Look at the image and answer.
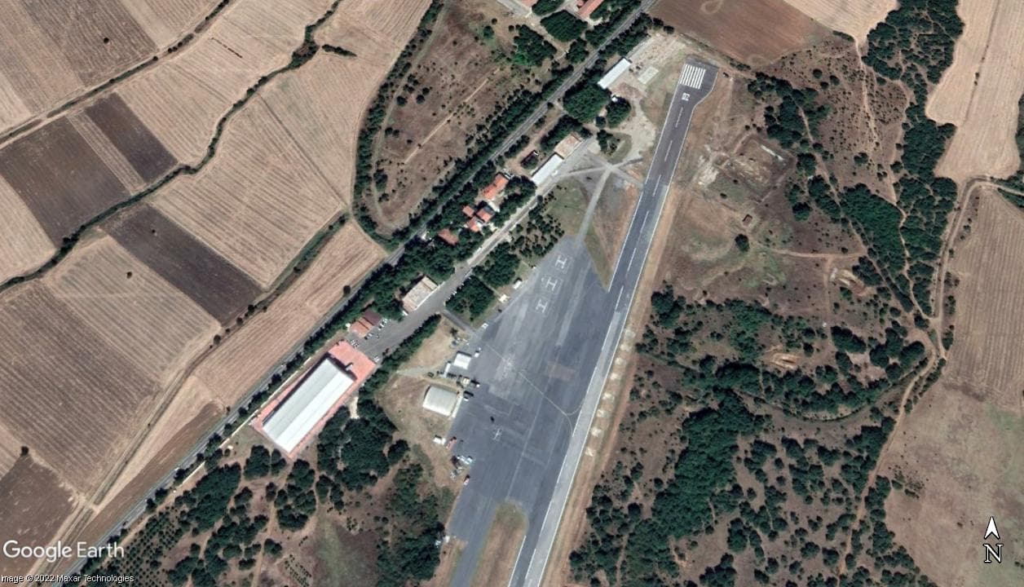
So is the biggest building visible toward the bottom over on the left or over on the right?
left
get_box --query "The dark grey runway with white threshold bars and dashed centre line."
[508,56,719,587]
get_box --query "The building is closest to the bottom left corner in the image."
[262,356,355,453]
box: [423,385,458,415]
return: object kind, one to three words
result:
hangar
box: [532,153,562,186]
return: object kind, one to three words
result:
shed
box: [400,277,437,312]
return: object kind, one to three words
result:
building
